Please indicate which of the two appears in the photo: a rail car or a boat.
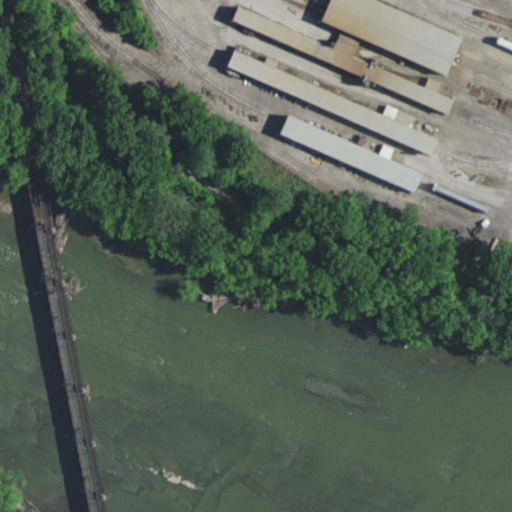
rail car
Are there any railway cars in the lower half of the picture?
No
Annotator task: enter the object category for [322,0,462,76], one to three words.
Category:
building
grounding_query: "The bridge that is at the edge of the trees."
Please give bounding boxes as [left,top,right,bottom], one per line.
[30,181,107,512]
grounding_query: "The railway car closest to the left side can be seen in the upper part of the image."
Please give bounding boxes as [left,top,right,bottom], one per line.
[432,184,488,214]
